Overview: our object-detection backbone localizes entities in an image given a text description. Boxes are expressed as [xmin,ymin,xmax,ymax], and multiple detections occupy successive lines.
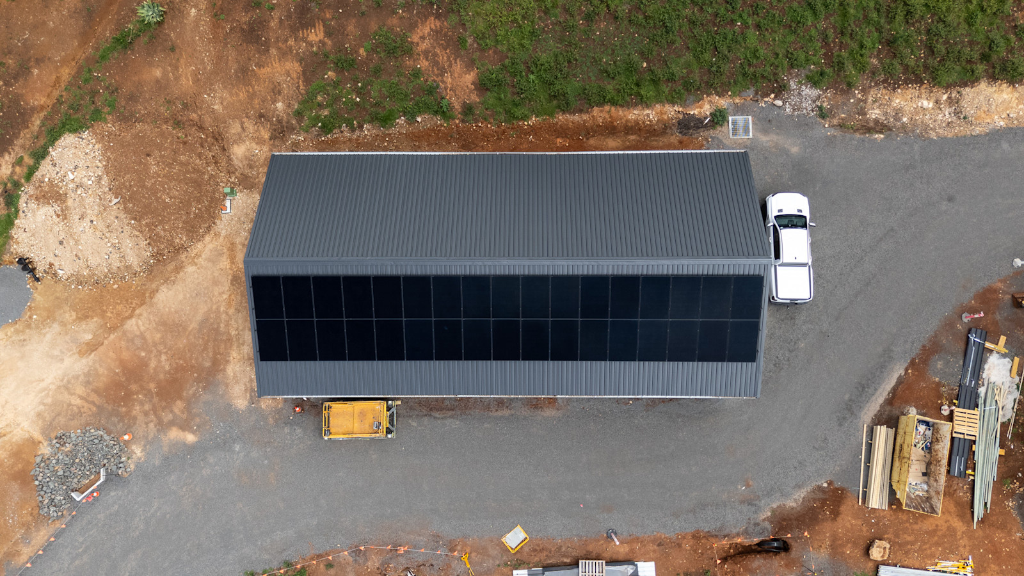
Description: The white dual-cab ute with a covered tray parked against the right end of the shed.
[761,192,814,306]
